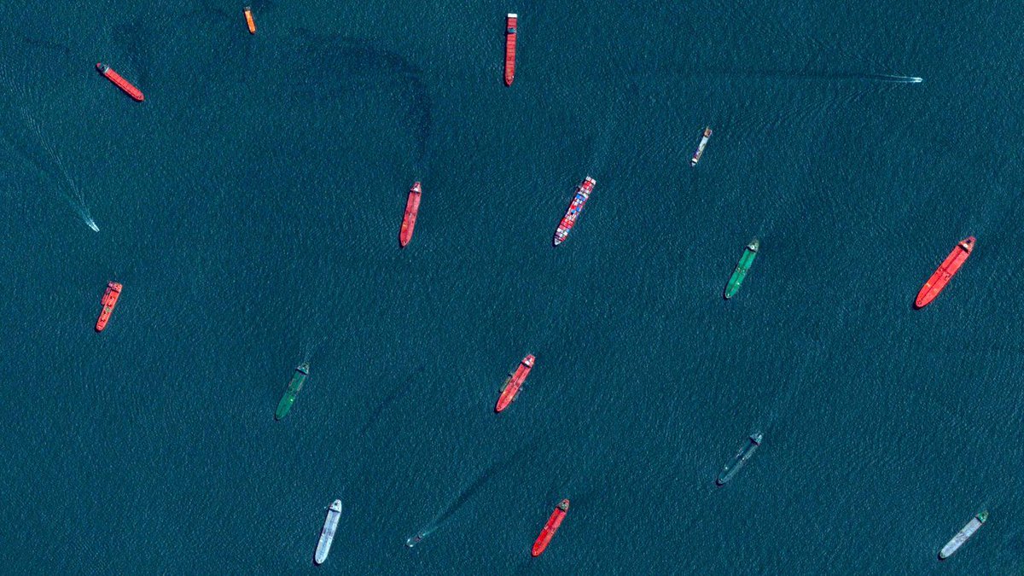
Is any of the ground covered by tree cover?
No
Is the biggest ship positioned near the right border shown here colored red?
Yes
